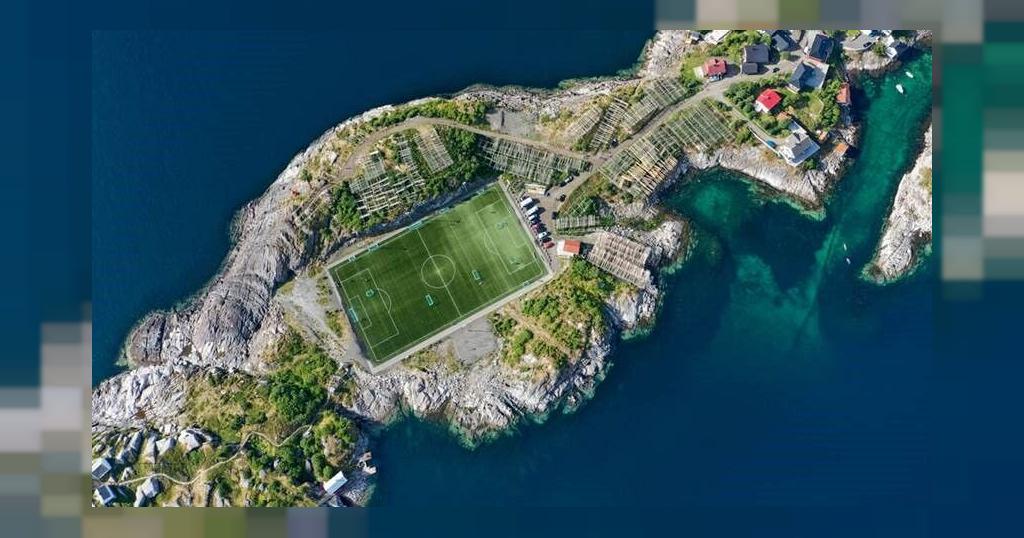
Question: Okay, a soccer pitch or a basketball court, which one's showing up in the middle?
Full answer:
There is a soccer pitch in the middle.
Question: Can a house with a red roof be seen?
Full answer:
Yes, you can see a house with a red roof in this photo.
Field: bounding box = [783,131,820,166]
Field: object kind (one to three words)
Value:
house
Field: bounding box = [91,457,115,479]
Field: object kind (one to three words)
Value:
building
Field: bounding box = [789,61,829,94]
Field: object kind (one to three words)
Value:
house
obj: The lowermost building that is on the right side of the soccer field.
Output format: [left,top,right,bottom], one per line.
[557,239,581,257]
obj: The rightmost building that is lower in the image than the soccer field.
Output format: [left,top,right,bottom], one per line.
[324,471,349,494]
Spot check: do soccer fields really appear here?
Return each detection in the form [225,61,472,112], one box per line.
[327,181,553,371]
